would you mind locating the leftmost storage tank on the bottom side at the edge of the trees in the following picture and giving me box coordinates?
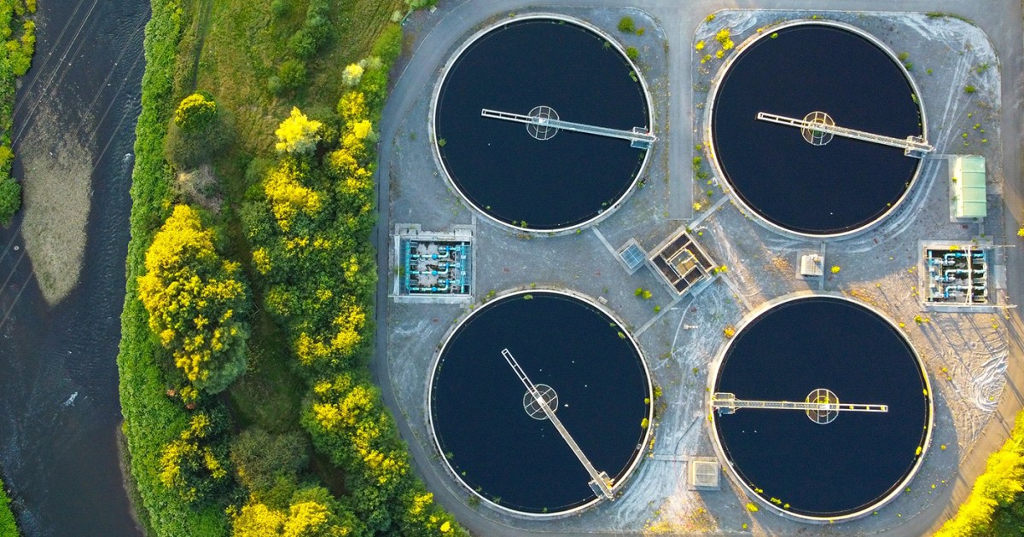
[425,286,656,520]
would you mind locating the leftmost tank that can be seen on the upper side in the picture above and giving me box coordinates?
[430,14,659,237]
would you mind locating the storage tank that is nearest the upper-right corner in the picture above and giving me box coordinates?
[699,20,937,243]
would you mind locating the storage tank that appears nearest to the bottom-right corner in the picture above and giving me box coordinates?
[701,290,933,523]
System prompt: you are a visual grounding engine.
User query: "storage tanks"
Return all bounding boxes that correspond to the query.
[699,20,937,243]
[701,290,933,523]
[430,14,659,237]
[425,286,656,520]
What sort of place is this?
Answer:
industrial area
